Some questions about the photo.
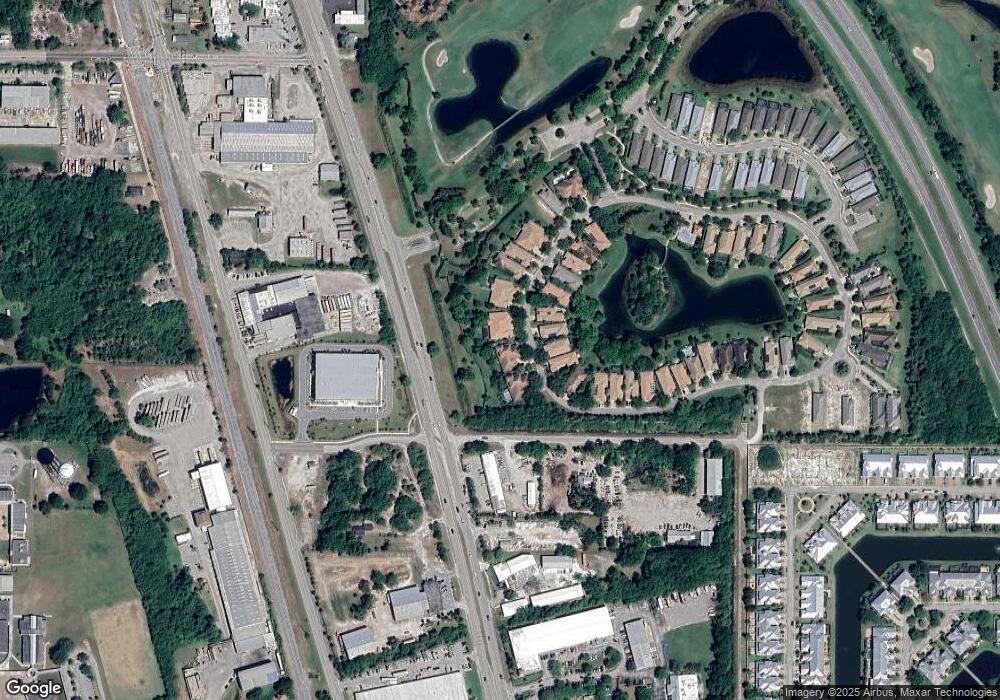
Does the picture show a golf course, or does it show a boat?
golf course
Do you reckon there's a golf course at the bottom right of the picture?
No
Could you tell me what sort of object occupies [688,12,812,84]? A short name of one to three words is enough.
pond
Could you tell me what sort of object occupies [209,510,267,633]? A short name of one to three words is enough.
building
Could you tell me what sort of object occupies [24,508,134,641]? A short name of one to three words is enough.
sports field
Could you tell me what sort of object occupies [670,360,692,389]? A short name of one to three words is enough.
house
